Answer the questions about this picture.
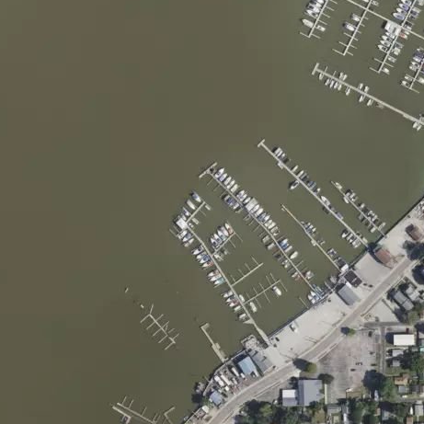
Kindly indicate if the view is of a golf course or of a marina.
marina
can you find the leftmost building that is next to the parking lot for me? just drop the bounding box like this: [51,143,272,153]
[299,380,323,406]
